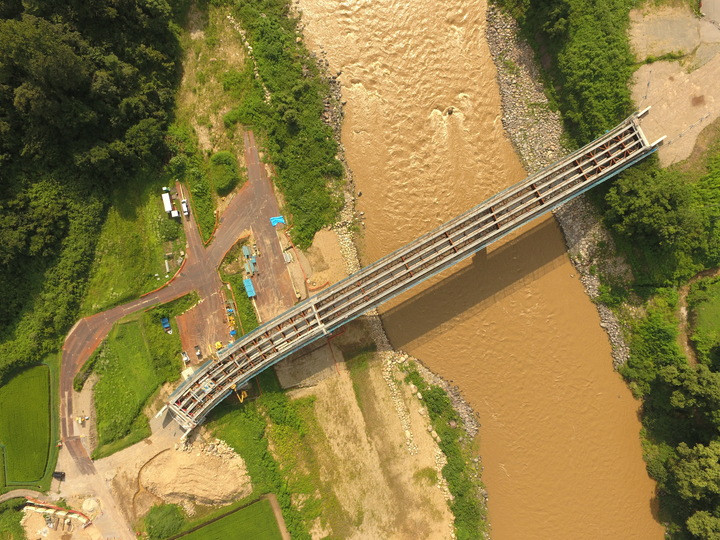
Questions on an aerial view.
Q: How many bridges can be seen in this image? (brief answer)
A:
1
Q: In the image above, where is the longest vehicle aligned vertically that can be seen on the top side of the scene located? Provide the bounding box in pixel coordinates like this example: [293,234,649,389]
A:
[158,185,171,213]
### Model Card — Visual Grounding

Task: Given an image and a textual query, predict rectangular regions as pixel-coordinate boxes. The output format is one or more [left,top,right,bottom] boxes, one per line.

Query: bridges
[157,105,667,438]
